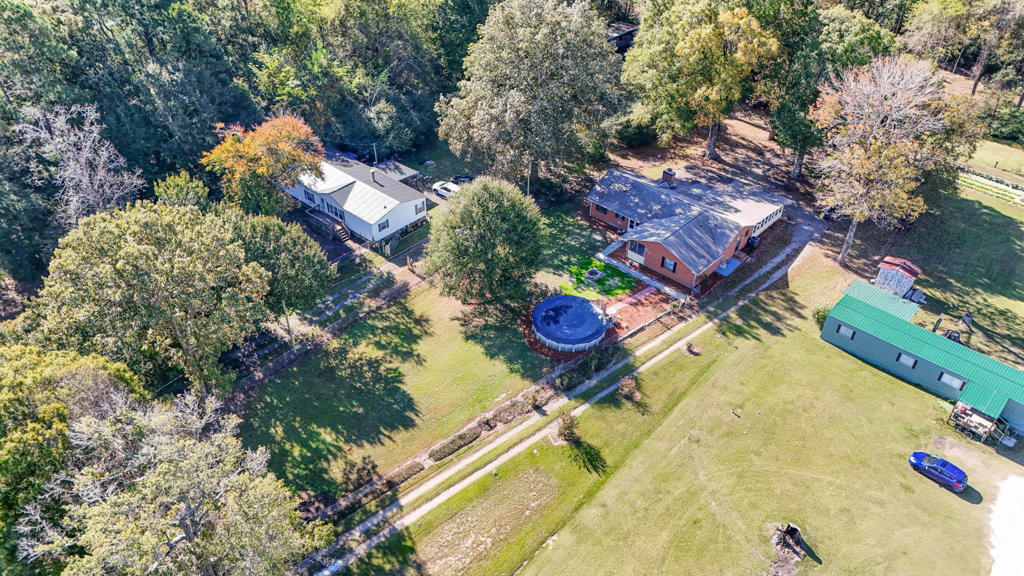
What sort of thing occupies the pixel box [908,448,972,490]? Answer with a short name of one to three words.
car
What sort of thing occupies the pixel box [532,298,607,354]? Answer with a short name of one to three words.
swimming pool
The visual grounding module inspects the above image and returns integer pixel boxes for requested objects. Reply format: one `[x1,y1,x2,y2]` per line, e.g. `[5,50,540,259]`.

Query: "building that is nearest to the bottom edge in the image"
[821,281,1024,450]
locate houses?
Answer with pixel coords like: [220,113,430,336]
[821,281,1024,450]
[265,151,426,244]
[580,166,792,290]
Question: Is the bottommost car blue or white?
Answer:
blue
